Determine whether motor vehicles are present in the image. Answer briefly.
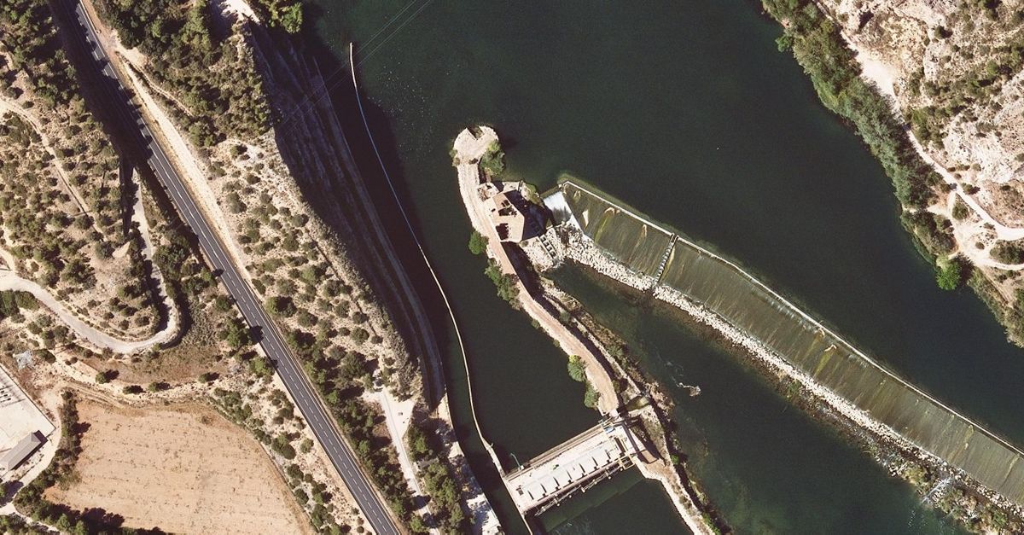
No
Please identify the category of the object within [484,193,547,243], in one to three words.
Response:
building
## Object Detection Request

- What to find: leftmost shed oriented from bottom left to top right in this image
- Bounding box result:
[0,432,41,470]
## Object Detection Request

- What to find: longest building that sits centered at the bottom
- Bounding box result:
[508,412,648,516]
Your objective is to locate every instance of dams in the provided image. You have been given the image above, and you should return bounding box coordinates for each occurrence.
[557,181,1024,512]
